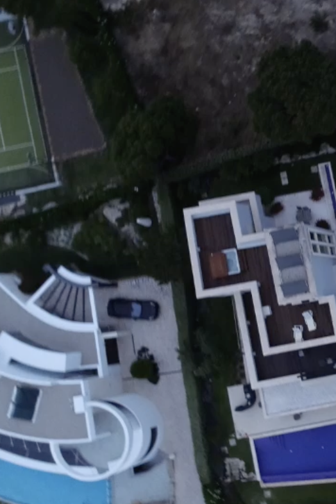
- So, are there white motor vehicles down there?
No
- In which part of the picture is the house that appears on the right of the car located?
right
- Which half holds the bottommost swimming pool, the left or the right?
left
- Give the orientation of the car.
from left to right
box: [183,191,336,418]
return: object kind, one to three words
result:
house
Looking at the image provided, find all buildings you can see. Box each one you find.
[0,263,166,482]
[183,191,336,418]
